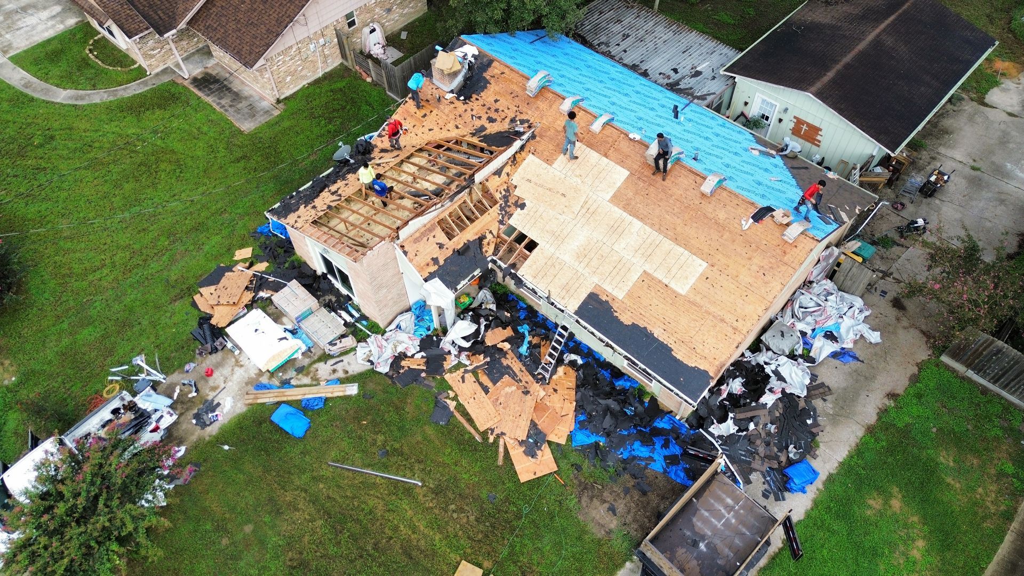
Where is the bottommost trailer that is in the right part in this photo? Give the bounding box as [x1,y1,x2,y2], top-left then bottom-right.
[615,445,801,576]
